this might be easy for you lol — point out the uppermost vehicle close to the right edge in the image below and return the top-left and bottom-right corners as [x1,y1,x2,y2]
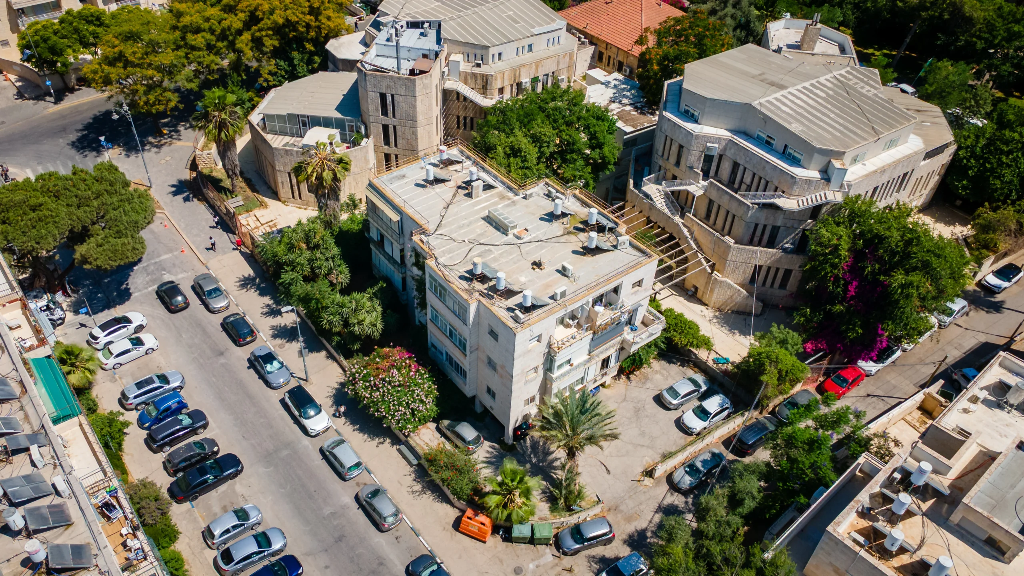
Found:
[985,258,1024,291]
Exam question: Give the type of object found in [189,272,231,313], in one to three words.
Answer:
car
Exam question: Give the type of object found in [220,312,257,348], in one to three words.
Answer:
car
